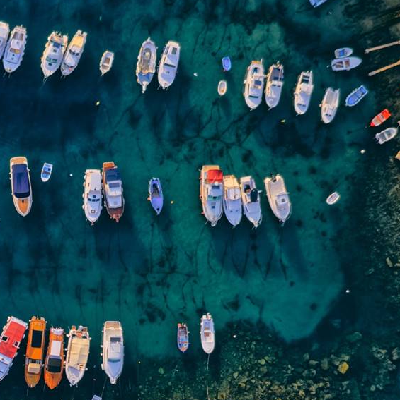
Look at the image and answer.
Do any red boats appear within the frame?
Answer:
Yes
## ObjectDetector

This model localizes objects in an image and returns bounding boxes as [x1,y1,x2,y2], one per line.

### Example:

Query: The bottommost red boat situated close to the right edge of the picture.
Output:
[370,109,391,125]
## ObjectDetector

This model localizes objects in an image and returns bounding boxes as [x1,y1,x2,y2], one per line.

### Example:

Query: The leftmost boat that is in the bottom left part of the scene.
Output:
[0,316,27,382]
